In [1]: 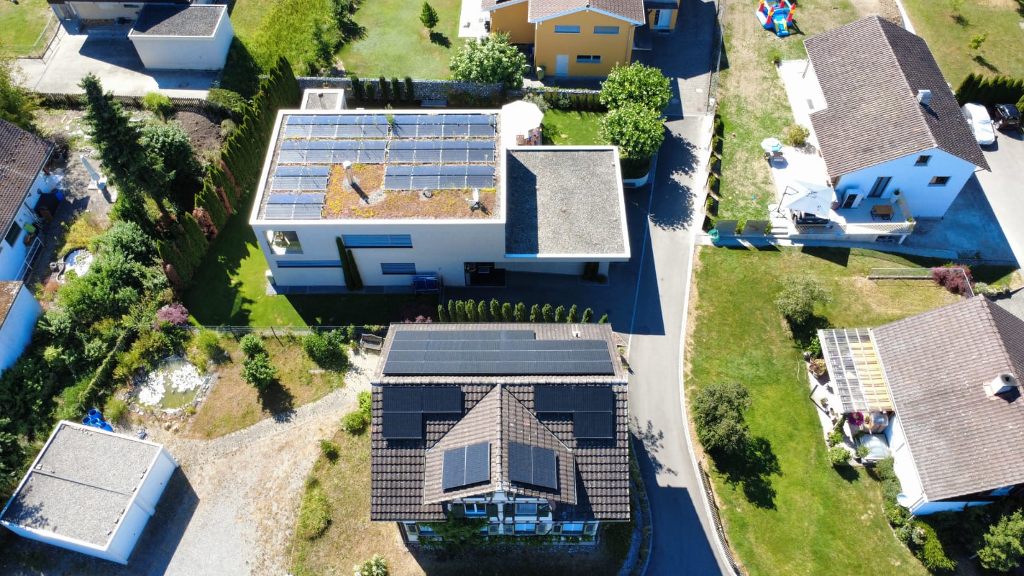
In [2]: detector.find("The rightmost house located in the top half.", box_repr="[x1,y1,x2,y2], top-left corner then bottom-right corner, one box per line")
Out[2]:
[796,15,992,223]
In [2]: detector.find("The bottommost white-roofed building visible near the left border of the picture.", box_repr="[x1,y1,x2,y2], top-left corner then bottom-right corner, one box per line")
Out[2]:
[0,422,180,564]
